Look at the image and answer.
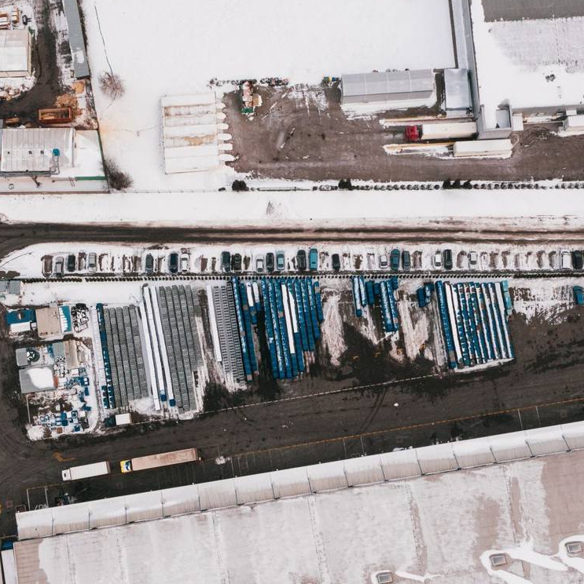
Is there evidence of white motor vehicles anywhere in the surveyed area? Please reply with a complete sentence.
Yes, a white motor vehicle can be made out from above.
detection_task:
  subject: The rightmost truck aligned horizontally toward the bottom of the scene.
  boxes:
[120,448,202,474]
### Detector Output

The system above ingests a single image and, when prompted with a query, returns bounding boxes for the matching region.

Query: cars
[169,252,178,273]
[391,250,400,269]
[256,256,265,273]
[572,286,584,306]
[180,254,190,272]
[221,252,230,273]
[379,253,389,272]
[67,254,76,272]
[309,248,319,269]
[276,250,286,271]
[560,250,571,271]
[442,249,453,269]
[55,258,64,277]
[332,253,340,272]
[433,252,442,269]
[265,252,275,273]
[468,251,477,269]
[145,253,155,274]
[402,250,411,271]
[233,253,243,271]
[297,250,306,271]
[571,249,583,269]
